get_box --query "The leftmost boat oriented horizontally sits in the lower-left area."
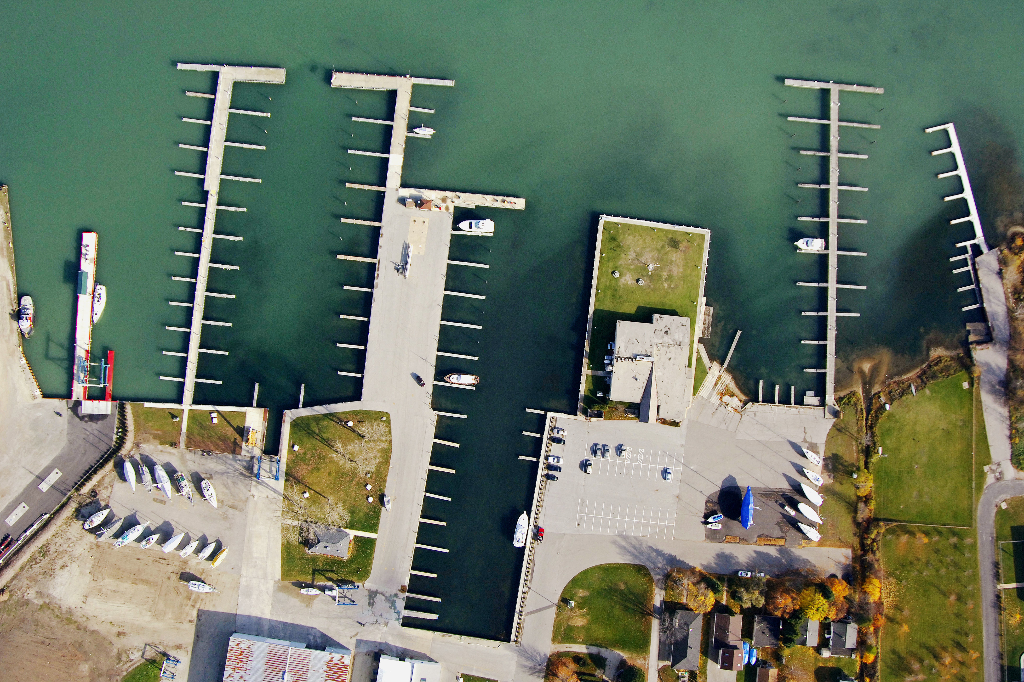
[178,582,228,596]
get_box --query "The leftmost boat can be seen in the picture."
[16,296,35,337]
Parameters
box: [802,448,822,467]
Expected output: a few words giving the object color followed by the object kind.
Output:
white boat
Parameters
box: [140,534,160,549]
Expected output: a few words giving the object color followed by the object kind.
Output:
white boat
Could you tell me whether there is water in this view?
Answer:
Yes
